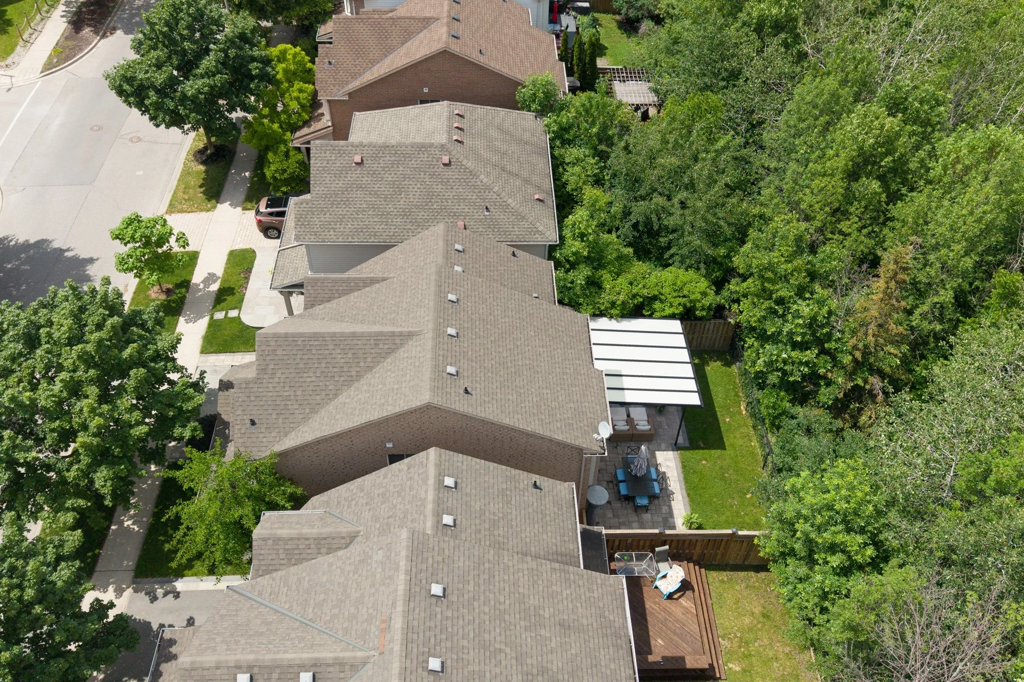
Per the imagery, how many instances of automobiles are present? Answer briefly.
one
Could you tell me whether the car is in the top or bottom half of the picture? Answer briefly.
top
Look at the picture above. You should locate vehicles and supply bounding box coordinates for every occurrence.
[245,189,293,235]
